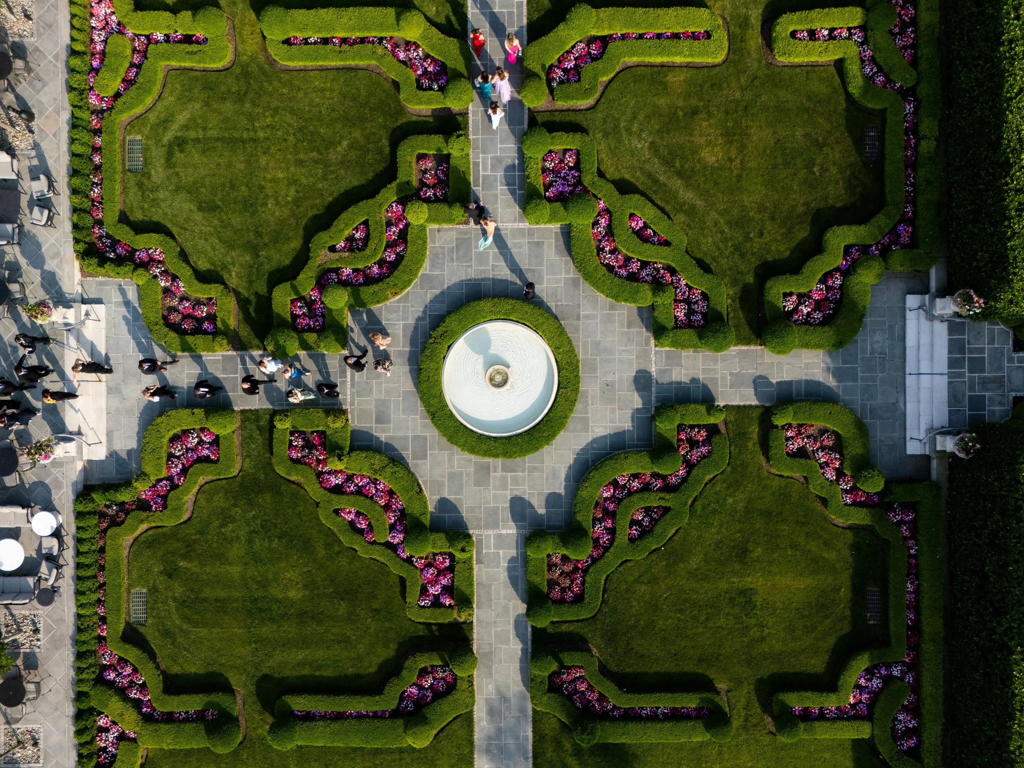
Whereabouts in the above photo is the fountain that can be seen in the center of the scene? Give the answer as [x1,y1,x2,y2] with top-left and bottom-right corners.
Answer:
[442,320,558,436]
